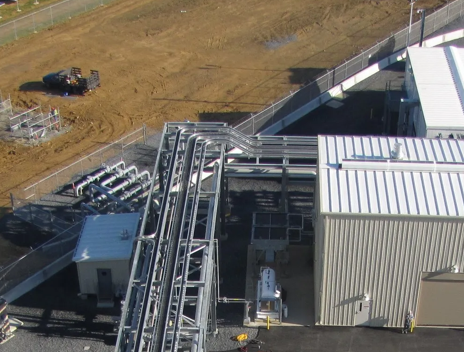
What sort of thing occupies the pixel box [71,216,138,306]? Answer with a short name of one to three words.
shed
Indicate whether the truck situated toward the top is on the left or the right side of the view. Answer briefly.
left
